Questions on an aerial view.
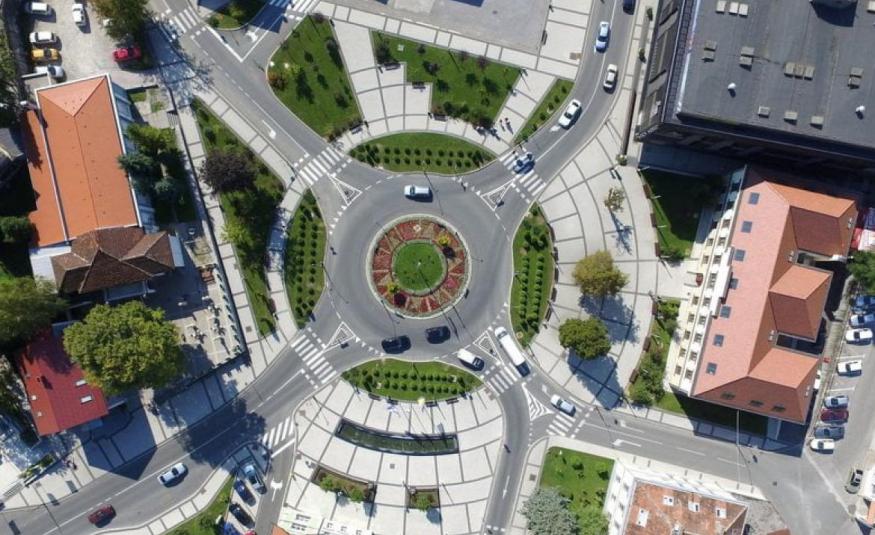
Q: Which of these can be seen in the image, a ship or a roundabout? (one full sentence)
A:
The one in the frame is a roundabout.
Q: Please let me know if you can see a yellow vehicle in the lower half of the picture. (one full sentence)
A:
No, looking in the lower half of the picture, there is no yellow vehicle.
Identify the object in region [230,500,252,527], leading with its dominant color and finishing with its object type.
black car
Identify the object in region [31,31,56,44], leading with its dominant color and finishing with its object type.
white vehicle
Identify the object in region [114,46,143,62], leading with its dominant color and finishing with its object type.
red car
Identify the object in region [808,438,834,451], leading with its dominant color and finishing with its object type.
white vehicle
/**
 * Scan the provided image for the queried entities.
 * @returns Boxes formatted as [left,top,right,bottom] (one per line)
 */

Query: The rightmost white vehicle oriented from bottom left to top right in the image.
[559,101,581,127]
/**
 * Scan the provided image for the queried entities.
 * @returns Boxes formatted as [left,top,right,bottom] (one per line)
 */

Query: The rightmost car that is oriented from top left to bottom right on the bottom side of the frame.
[550,395,575,414]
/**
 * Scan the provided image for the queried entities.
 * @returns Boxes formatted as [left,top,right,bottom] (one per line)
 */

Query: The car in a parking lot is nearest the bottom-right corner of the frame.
[844,466,862,493]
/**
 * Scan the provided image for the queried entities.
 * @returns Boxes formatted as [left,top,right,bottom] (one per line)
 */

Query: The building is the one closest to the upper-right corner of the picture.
[639,0,875,175]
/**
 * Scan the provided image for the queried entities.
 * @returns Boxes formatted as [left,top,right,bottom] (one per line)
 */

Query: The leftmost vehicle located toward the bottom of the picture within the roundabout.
[383,337,410,350]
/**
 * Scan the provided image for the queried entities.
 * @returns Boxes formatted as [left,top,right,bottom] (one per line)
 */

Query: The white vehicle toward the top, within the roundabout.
[404,185,431,197]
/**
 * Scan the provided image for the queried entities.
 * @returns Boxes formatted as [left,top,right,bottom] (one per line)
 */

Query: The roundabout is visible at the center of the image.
[326,174,511,359]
